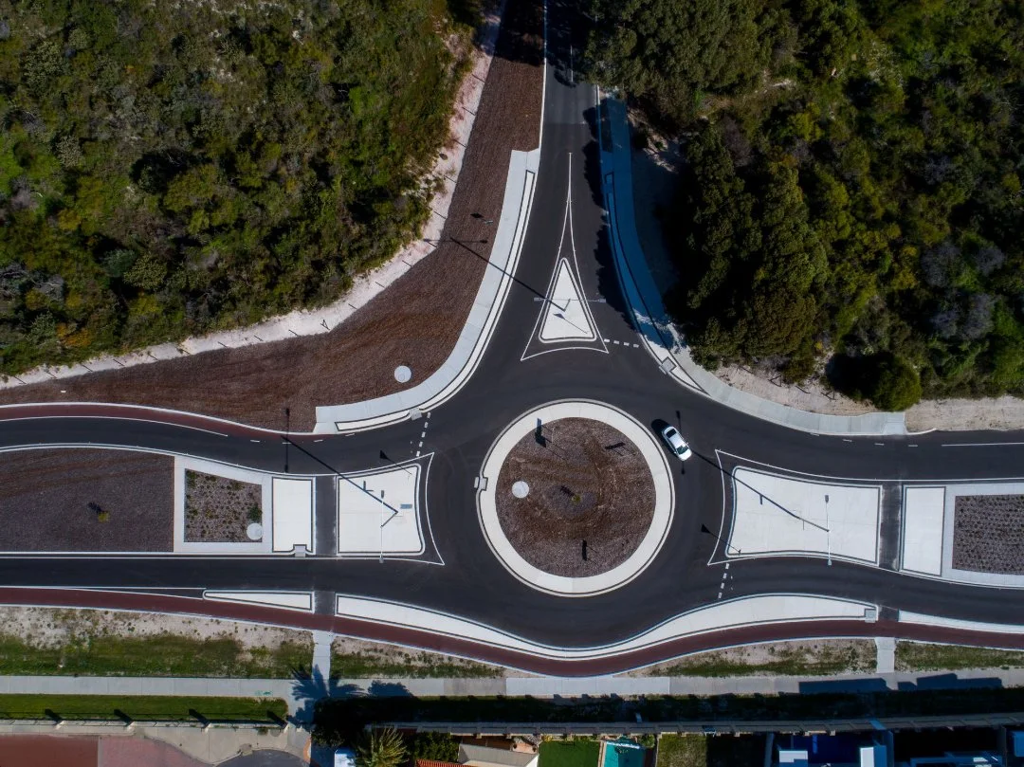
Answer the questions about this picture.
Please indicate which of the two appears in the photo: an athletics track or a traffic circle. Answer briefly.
traffic circle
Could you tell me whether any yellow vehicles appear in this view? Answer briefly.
No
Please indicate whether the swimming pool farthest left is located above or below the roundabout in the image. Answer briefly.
below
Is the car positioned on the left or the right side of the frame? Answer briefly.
right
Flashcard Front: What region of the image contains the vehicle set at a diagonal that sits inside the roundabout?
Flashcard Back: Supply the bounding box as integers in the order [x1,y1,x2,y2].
[663,427,693,461]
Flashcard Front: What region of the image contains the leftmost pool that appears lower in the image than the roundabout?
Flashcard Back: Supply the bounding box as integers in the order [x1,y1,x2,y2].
[602,739,656,767]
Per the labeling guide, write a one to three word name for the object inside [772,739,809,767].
house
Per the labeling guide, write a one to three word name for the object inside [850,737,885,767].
house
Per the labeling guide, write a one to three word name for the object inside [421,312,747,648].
roundabout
